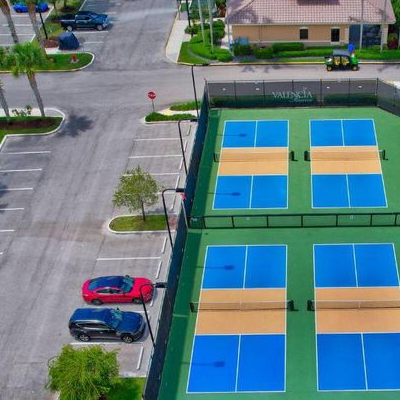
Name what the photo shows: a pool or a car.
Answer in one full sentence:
This aerial view contains a car.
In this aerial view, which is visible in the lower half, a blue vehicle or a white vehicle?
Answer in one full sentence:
What appears in the lower half is a blue vehicle.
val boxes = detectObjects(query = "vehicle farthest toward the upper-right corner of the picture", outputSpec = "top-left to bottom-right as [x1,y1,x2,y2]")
[326,47,360,71]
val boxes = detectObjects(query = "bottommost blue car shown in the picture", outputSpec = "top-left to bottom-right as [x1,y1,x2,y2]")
[66,307,145,344]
